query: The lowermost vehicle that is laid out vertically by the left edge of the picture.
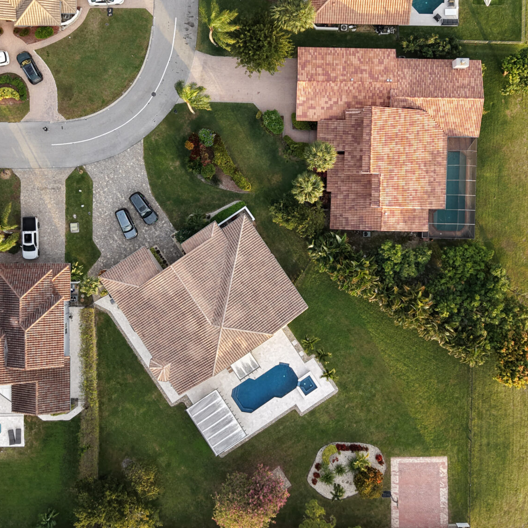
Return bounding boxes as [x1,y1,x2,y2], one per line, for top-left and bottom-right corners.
[21,216,41,258]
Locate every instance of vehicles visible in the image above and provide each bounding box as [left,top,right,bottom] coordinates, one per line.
[17,50,44,86]
[130,190,158,226]
[88,0,124,6]
[0,50,10,66]
[21,216,41,258]
[113,207,138,241]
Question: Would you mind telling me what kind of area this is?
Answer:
residential area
